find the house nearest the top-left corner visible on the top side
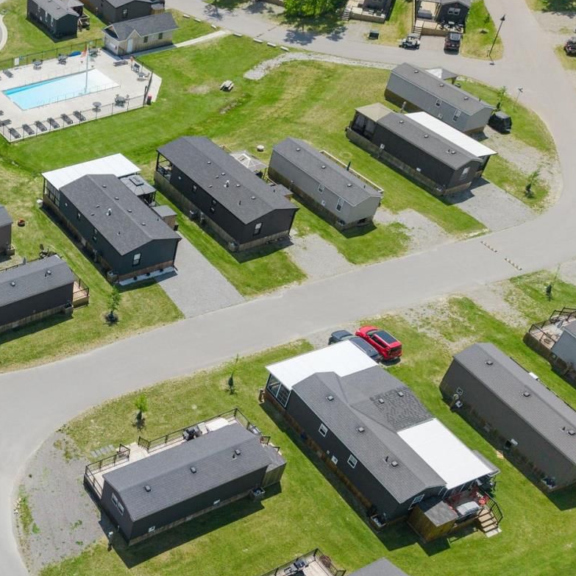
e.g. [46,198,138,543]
[29,0,82,40]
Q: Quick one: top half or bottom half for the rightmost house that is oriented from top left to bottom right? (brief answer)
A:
bottom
